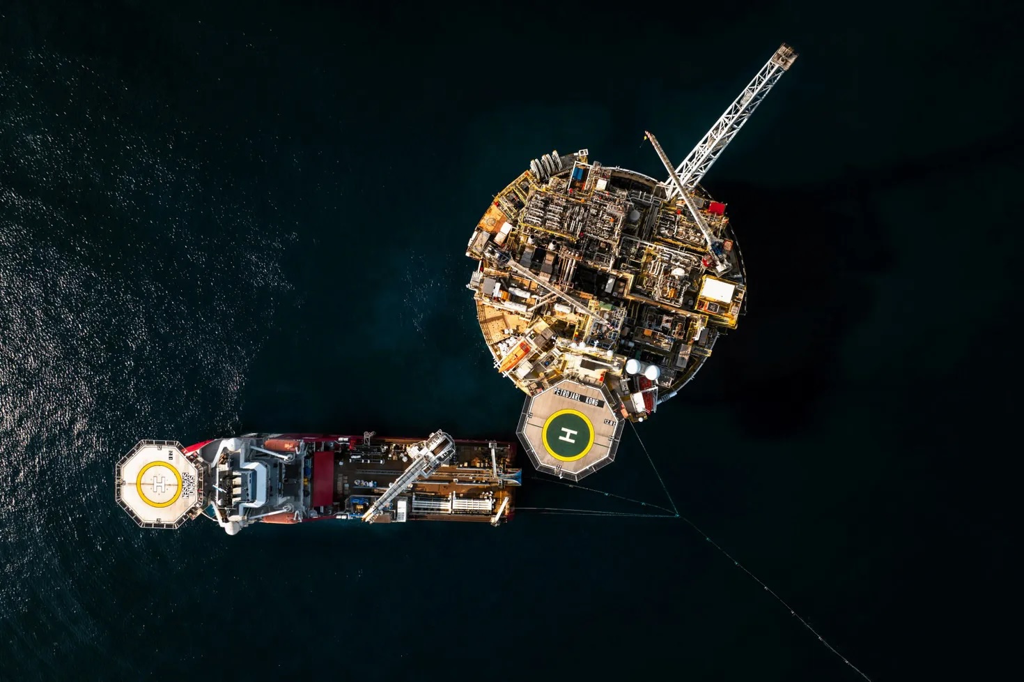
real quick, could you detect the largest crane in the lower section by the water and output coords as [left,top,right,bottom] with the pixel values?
[357,429,456,529]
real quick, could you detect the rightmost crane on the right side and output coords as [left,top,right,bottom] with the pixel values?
[641,131,741,284]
